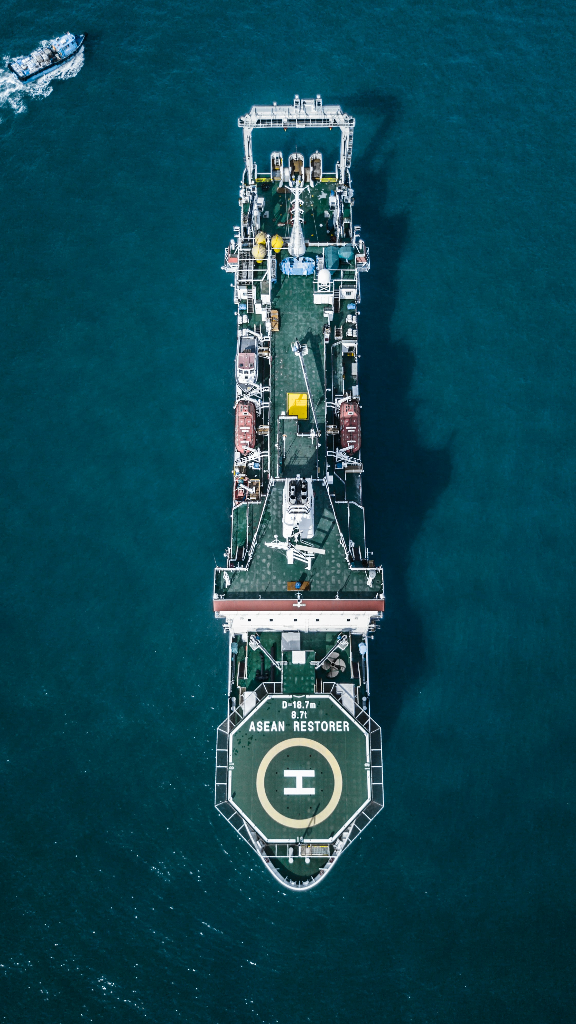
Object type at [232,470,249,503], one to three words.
boat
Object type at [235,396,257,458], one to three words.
boat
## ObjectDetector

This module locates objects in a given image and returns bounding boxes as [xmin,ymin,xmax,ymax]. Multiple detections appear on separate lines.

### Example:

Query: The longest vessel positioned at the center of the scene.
[212,94,386,891]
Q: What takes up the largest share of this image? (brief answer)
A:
water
